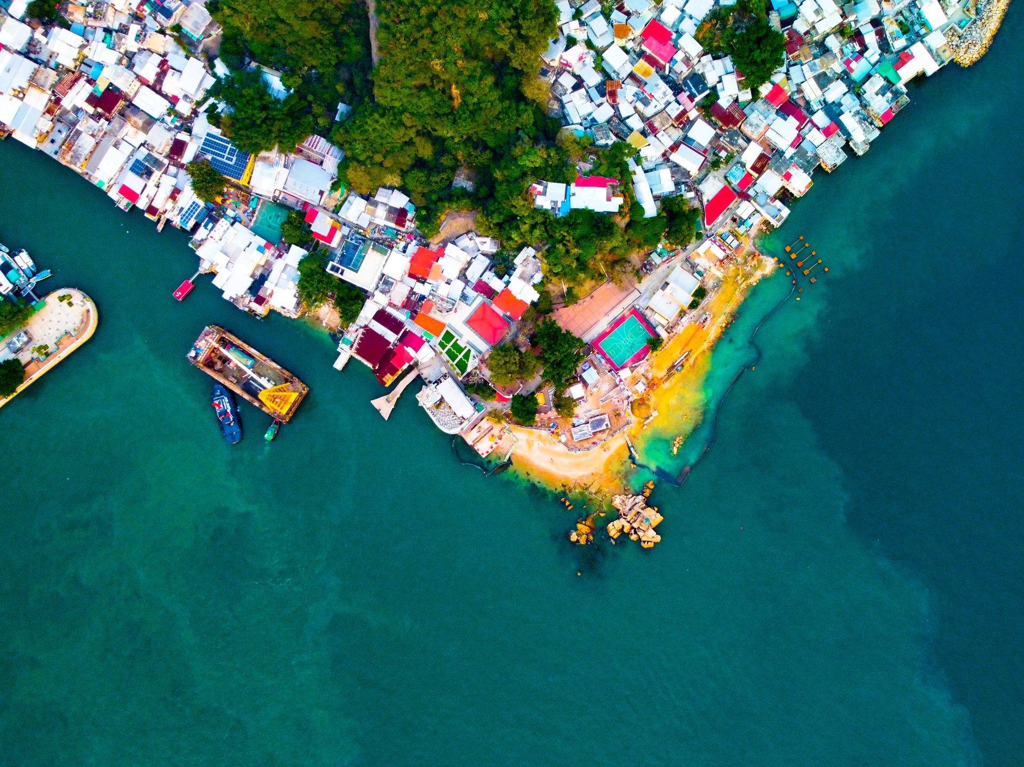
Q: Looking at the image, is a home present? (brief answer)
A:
Yes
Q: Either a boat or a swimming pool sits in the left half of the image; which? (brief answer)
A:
boat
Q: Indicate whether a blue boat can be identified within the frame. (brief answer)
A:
Yes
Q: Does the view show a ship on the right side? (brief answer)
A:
No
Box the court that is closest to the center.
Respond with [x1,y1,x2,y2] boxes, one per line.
[591,308,655,372]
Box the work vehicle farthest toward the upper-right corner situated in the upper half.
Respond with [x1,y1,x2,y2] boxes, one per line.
[749,247,762,267]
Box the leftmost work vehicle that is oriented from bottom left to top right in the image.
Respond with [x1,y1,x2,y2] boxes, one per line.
[640,376,661,398]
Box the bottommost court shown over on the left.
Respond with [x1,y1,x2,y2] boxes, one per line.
[336,239,372,272]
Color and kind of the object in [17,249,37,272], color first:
white boat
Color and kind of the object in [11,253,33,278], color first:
white boat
